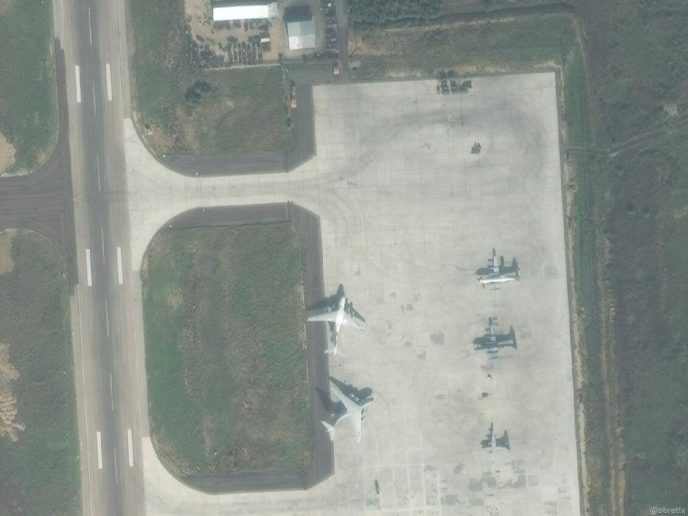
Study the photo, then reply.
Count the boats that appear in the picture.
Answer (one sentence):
I count no boats.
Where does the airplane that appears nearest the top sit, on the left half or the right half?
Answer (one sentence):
The airplane that appears nearest the top sits on the right side.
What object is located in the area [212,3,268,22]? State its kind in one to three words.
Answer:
shed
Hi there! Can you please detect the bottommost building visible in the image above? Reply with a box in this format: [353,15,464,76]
[287,20,315,49]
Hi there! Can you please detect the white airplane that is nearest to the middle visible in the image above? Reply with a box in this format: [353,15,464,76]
[308,296,369,353]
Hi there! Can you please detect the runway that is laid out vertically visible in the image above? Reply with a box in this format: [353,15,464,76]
[53,0,150,516]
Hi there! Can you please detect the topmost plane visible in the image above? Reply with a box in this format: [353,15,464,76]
[480,257,521,303]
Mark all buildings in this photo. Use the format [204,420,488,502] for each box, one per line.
[212,3,268,22]
[287,20,315,49]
